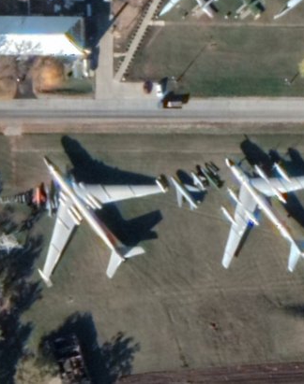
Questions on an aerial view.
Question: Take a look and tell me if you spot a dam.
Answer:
No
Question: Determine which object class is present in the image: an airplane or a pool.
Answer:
airplane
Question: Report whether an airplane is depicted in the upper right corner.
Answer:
Yes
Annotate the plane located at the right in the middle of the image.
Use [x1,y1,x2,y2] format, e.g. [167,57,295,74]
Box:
[214,158,304,270]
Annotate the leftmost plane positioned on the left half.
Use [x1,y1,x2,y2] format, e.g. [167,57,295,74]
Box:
[37,157,166,283]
